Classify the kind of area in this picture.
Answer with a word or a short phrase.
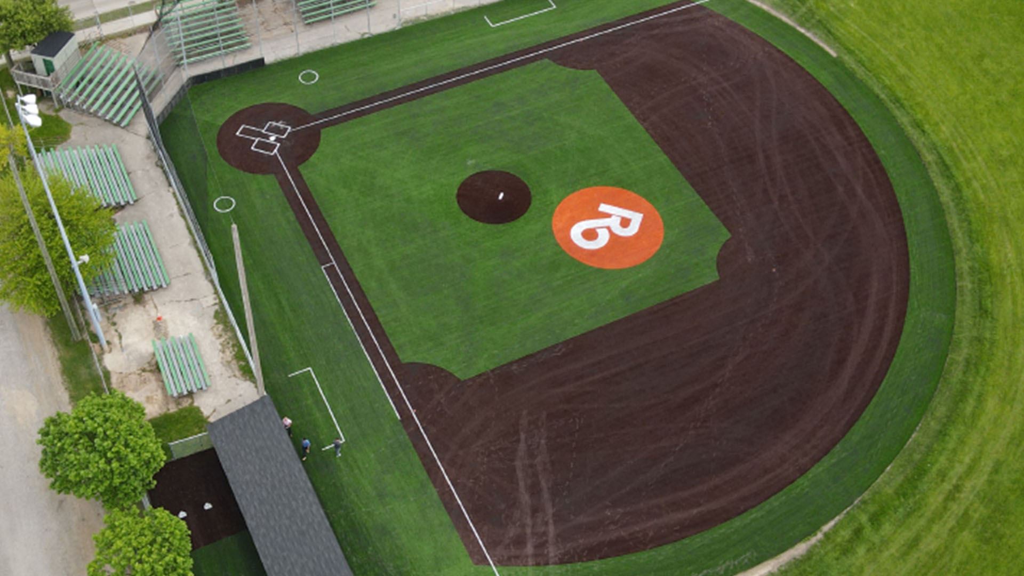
sports ground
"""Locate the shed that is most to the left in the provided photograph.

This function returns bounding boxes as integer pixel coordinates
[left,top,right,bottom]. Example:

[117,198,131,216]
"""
[19,31,83,108]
